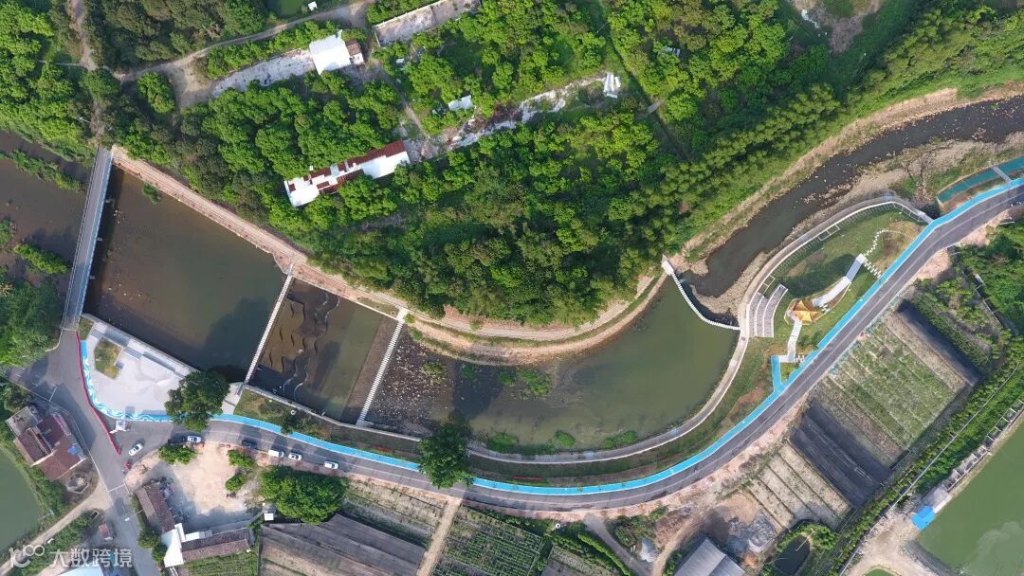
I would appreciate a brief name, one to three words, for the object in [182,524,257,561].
barn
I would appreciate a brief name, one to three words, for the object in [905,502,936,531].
shed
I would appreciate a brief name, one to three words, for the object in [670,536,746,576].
building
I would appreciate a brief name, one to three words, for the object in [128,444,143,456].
vehicle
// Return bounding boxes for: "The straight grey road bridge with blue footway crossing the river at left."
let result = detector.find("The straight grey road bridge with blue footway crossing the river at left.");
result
[59,141,114,330]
